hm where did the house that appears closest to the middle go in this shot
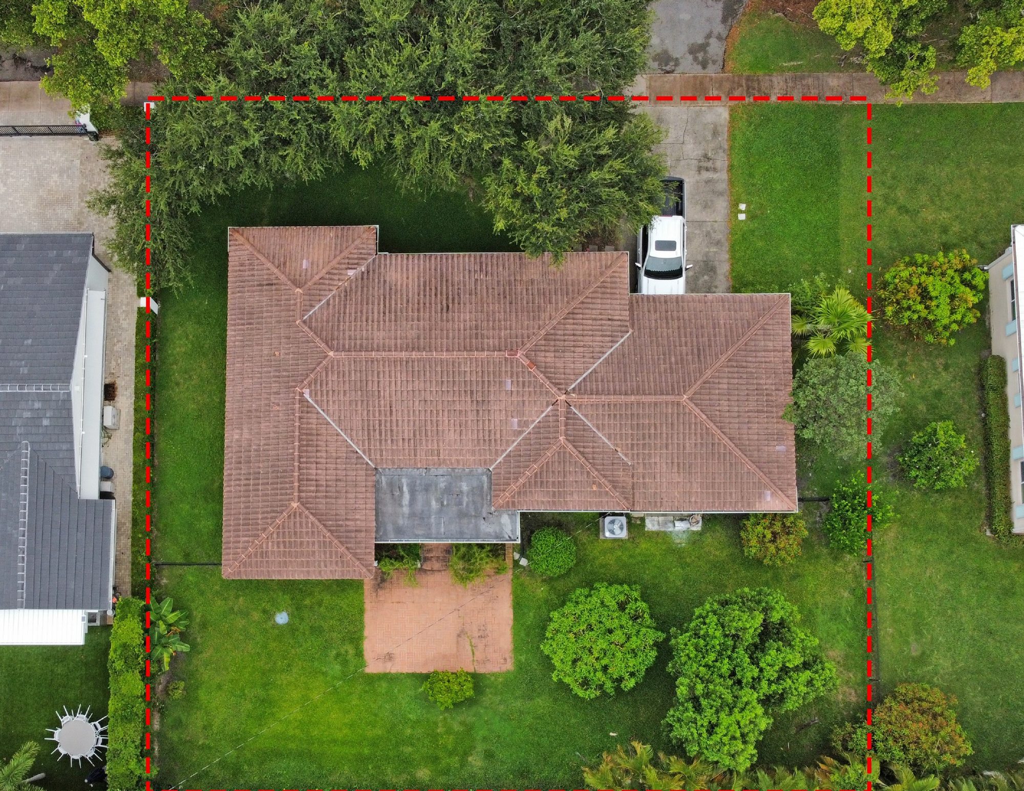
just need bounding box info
[218,224,799,581]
